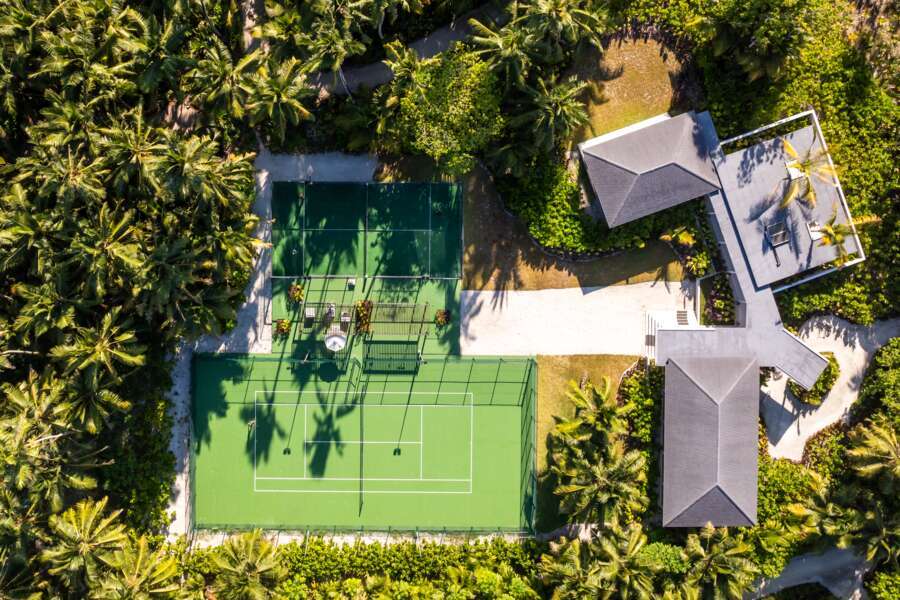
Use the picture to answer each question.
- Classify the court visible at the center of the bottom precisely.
tennis court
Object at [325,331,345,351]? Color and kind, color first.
white umbrella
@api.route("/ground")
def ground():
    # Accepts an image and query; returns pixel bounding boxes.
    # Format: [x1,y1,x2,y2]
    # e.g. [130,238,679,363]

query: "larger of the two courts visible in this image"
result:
[192,353,538,531]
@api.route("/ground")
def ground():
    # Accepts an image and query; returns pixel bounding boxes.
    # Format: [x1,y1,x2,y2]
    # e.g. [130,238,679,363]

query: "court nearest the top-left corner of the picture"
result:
[266,178,461,278]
